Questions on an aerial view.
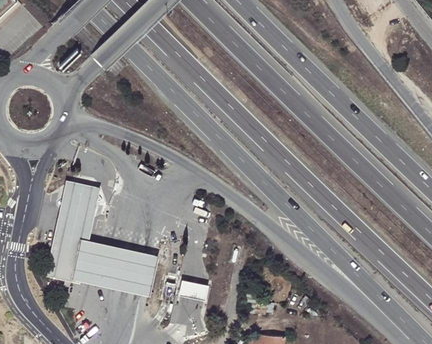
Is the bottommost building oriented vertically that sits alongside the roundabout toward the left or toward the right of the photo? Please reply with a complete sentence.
The bottommost building oriented vertically that sits alongside the roundabout appears in the left half of the scene.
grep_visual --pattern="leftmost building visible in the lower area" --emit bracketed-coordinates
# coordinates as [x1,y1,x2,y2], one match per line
[47,181,100,282]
